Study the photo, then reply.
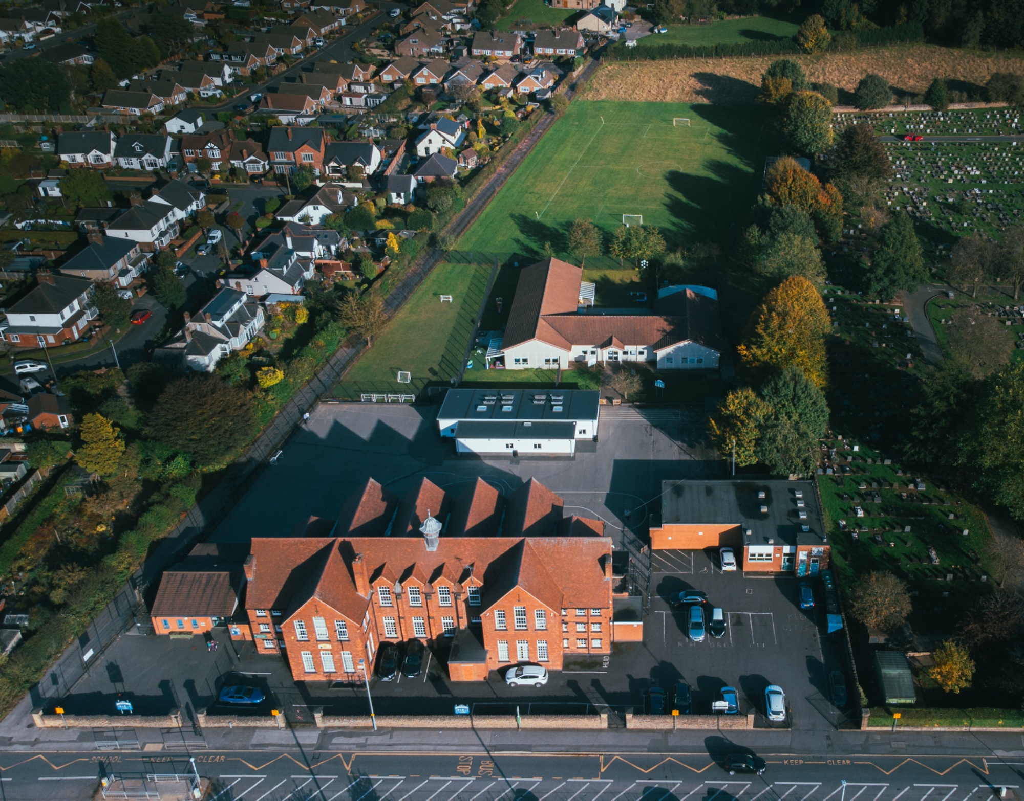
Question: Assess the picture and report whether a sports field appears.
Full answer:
Yes, the photo shows a sports field.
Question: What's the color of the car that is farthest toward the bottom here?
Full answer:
In this view, the car that is farthest toward the bottom is black.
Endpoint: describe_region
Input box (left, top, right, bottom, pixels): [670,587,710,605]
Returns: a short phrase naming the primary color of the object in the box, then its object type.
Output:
black car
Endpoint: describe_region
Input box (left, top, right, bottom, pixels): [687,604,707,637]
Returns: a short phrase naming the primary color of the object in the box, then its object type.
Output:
blue car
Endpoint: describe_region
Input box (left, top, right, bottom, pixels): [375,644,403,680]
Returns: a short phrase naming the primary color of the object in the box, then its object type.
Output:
black car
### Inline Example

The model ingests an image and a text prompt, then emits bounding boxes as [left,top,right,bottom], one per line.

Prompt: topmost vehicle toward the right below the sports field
[718,545,737,569]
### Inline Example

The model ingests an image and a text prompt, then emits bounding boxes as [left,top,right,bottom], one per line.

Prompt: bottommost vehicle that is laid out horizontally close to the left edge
[13,357,47,372]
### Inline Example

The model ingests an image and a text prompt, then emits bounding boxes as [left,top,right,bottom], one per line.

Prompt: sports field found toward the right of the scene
[450,99,796,265]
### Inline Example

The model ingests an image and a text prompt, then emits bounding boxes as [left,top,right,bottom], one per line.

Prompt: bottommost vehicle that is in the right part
[724,750,767,774]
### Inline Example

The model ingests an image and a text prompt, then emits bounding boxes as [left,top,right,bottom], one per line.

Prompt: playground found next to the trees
[208,401,737,593]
